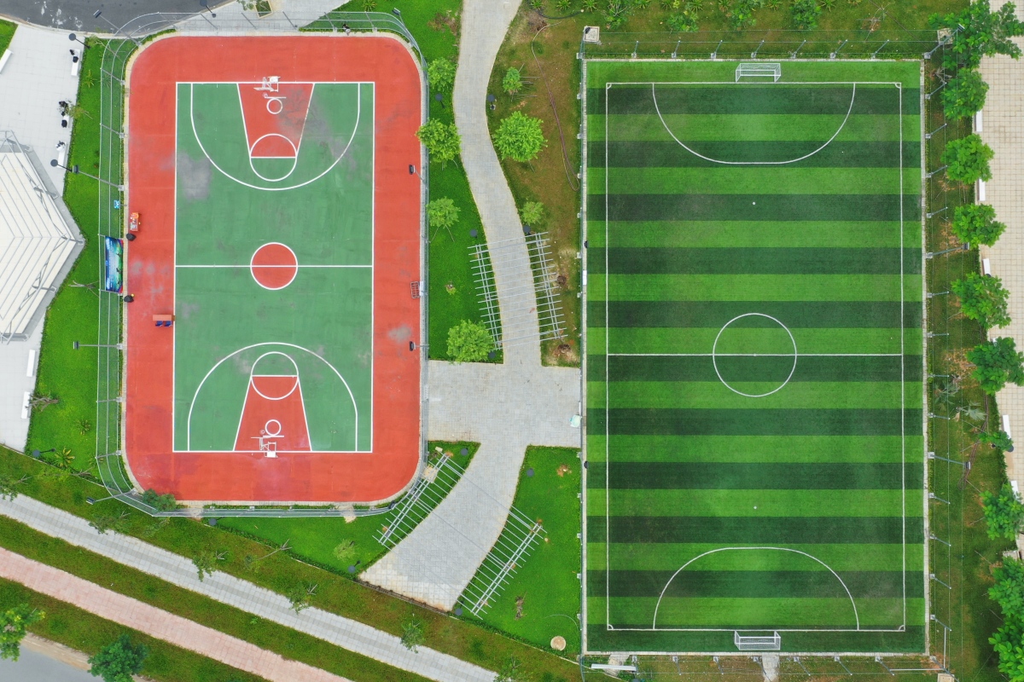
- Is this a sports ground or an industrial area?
sports ground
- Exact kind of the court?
basketball court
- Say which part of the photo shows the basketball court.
left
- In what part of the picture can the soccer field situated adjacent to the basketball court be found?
right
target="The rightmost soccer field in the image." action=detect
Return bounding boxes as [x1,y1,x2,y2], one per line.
[584,57,929,657]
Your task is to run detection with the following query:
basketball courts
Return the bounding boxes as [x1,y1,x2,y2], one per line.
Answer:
[120,31,426,507]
